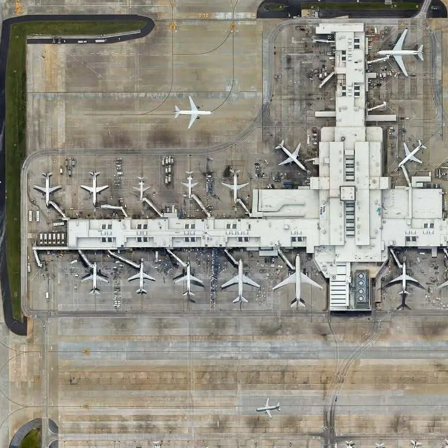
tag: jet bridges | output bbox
[187,193,211,218]
[106,249,142,270]
[31,246,41,269]
[399,162,411,186]
[141,195,164,218]
[317,71,336,90]
[234,197,252,217]
[277,246,296,270]
[77,249,94,270]
[223,246,239,264]
[389,246,402,270]
[97,203,128,217]
[366,101,390,112]
[166,246,189,267]
[310,37,336,43]
[47,198,67,218]
[365,54,392,64]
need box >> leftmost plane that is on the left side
[34,172,62,206]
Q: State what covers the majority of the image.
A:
paved ground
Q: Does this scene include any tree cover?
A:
No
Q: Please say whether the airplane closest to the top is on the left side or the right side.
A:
right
